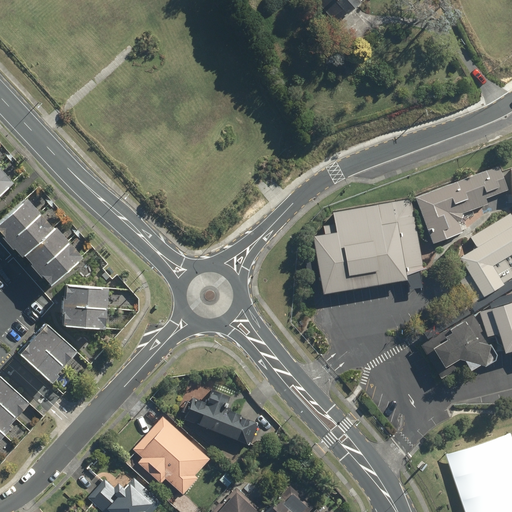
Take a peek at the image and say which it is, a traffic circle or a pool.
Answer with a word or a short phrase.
traffic circle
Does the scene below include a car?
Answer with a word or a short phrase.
Yes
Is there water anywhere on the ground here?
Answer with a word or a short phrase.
No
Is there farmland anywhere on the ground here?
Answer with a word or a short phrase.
Yes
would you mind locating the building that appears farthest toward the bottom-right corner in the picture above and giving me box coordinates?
[447,434,512,512]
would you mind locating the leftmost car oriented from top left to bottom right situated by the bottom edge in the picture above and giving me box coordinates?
[77,474,92,489]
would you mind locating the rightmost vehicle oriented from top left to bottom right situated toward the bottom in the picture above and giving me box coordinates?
[256,414,272,430]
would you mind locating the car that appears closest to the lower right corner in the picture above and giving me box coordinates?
[383,400,398,418]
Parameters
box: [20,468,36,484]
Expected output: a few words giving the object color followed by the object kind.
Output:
white car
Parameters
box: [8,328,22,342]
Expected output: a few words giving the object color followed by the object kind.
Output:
blue car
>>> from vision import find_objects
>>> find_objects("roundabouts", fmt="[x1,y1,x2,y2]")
[186,272,234,319]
